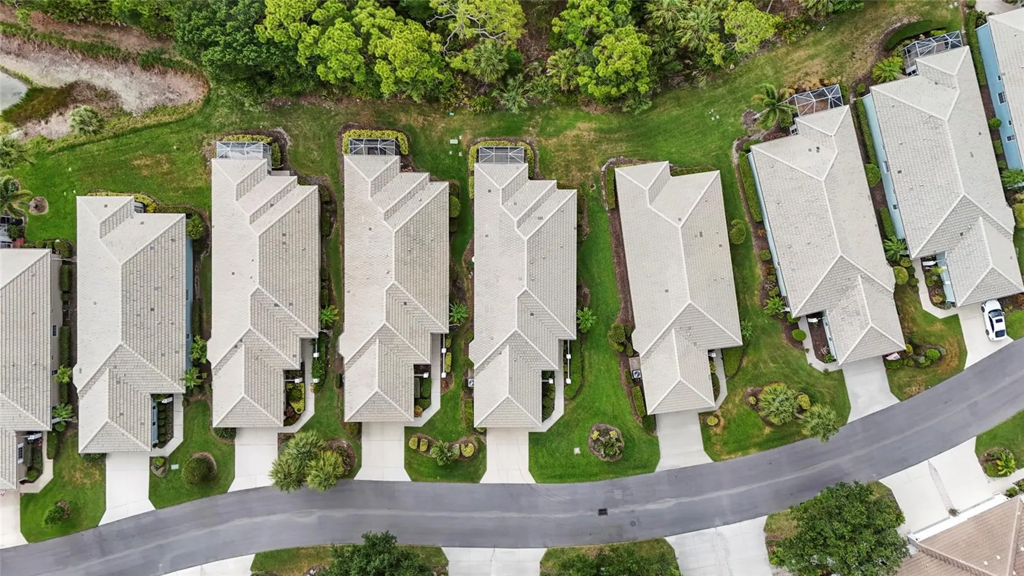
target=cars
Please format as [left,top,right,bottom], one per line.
[979,298,1007,341]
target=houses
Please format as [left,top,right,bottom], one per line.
[469,147,578,428]
[747,84,905,366]
[615,160,743,415]
[885,494,1024,576]
[976,8,1024,206]
[0,215,63,490]
[208,141,322,428]
[73,196,193,453]
[340,139,449,423]
[863,31,1024,306]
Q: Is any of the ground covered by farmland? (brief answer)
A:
No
